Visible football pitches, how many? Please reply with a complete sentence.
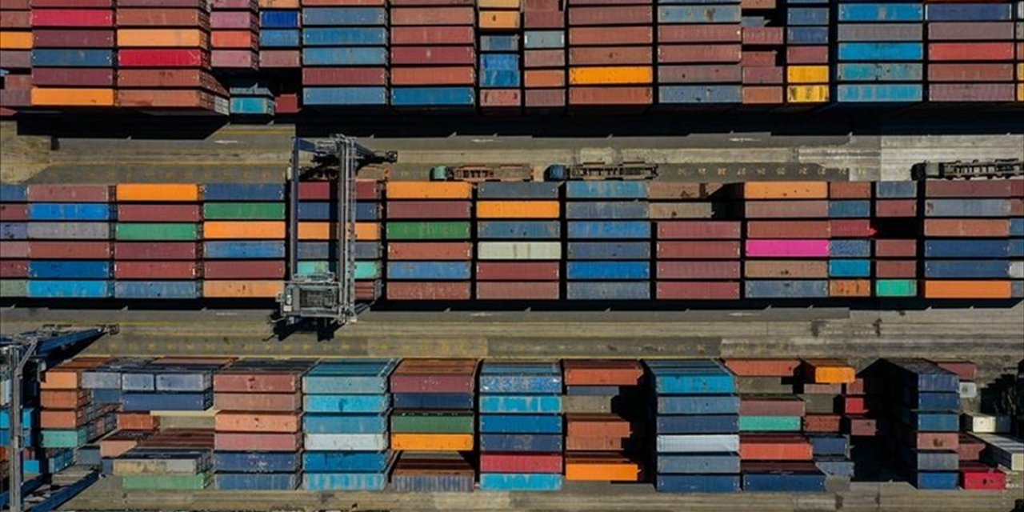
Not a single football pitch can be seen.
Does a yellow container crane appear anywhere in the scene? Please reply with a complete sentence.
No, the scene contains no yellow container crane.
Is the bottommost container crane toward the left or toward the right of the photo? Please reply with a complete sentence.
You can find the bottommost container crane on the left side of the picture.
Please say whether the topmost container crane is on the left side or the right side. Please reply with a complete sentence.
The topmost container crane sits on the left side.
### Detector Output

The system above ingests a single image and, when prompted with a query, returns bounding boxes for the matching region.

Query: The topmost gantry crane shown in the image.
[274,125,390,329]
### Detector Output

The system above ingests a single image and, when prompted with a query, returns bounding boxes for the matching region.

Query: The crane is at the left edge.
[0,322,120,512]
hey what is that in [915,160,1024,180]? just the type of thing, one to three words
vehicle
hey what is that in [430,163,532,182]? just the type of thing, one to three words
vehicle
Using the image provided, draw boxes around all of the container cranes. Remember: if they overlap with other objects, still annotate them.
[0,322,120,512]
[274,125,390,329]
